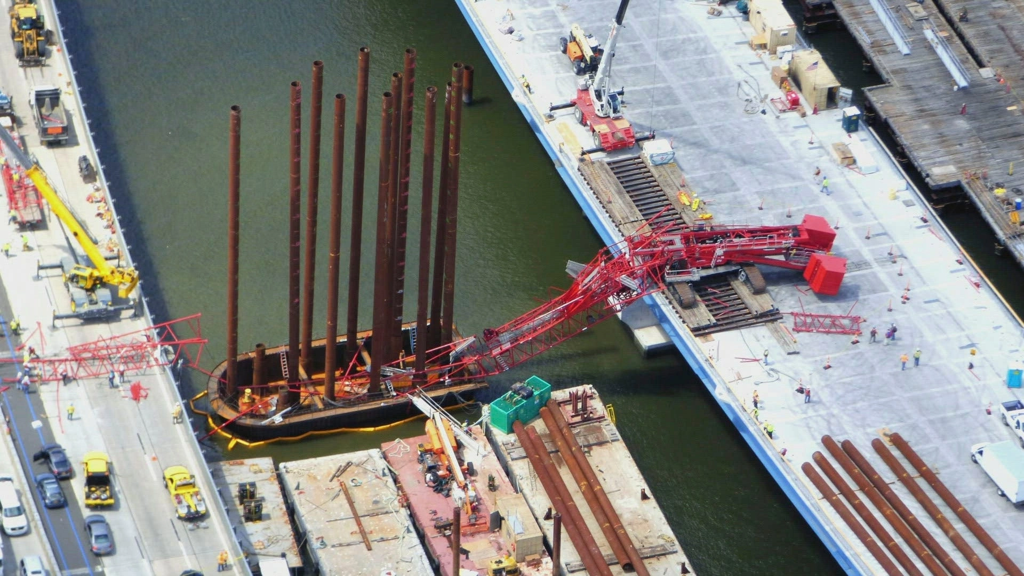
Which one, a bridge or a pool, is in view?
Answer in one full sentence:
The one in the frame is a bridge.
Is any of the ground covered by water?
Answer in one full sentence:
Yes, the picture does contain water.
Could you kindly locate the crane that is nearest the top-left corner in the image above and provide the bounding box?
[0,120,152,338]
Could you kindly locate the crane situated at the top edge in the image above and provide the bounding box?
[551,0,662,160]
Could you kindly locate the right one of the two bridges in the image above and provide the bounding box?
[442,0,1024,576]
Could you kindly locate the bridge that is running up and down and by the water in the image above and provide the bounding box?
[0,0,254,576]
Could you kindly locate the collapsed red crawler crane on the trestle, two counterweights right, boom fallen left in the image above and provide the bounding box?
[238,207,847,415]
